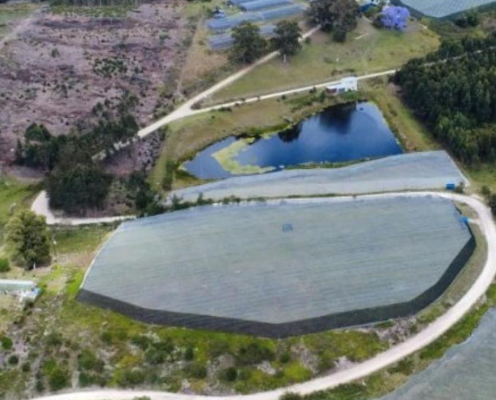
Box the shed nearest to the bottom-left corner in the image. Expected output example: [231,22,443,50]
[0,274,40,293]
